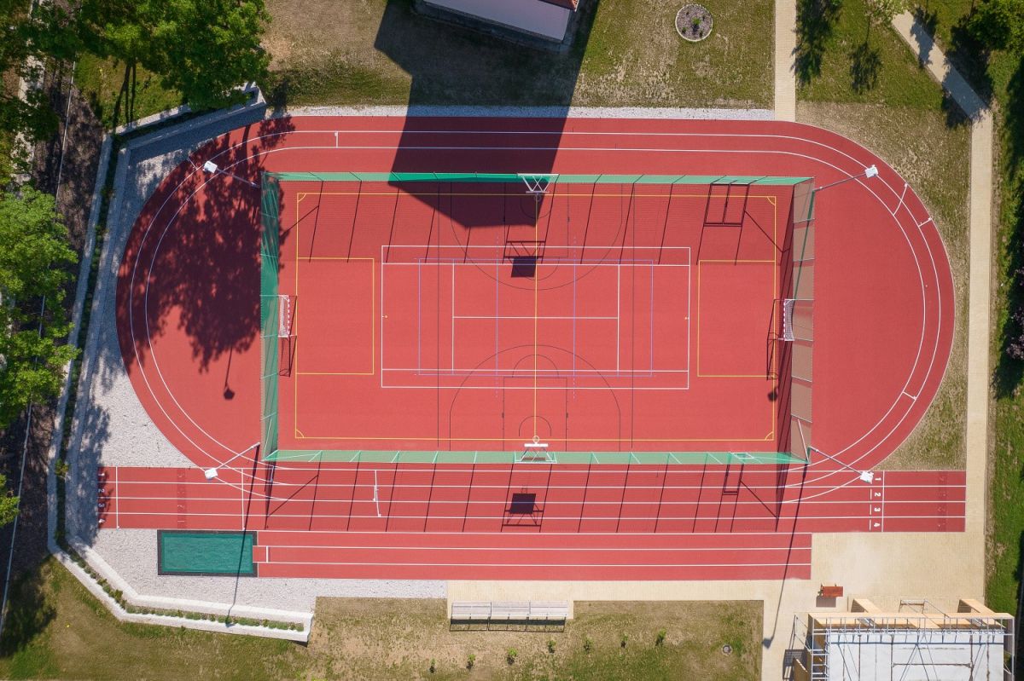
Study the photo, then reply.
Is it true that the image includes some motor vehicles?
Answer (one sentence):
No, there isn't any motor vehicle down there.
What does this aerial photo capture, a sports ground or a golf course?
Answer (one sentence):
The area seen from above is a sports ground.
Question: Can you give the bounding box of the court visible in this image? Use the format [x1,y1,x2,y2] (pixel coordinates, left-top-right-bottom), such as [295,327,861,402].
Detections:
[278,182,793,452]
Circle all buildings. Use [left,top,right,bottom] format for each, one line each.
[794,600,1018,681]
[428,0,582,43]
